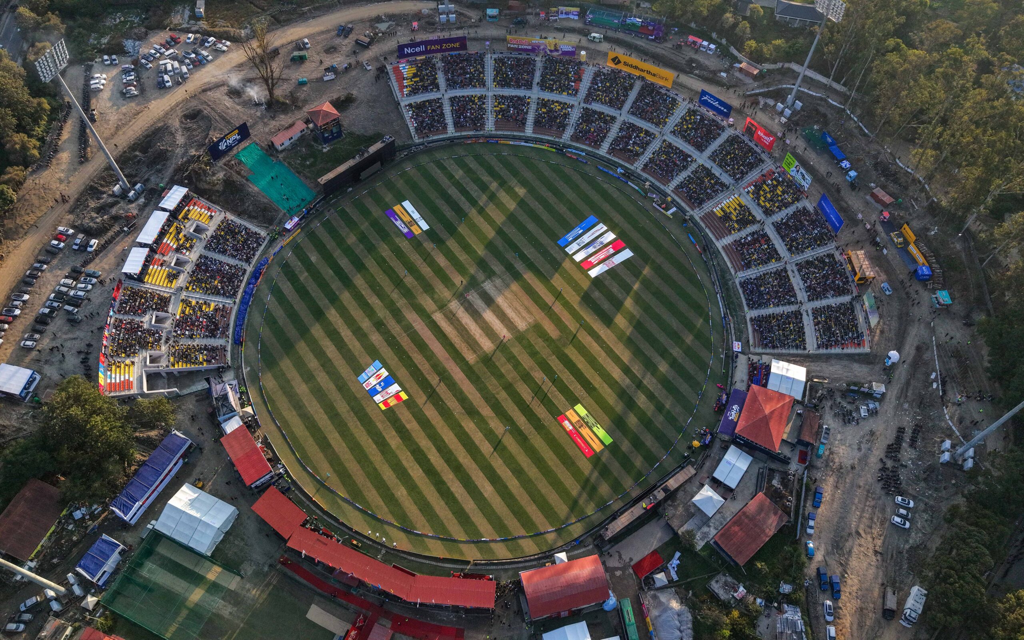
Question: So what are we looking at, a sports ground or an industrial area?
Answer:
sports ground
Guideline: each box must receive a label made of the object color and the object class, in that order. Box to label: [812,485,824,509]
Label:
blue vehicle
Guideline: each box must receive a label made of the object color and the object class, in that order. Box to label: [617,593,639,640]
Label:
green bus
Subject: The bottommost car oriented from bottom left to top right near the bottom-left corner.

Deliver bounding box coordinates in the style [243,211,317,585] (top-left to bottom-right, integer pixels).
[19,594,40,612]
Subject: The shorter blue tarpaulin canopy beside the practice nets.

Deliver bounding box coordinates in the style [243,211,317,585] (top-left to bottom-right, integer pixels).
[76,536,127,584]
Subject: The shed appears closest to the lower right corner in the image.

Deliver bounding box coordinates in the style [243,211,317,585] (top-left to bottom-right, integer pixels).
[774,604,804,640]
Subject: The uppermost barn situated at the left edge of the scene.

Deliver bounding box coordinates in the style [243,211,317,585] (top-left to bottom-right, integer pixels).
[0,474,64,561]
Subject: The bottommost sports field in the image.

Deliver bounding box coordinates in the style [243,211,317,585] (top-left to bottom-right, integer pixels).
[113,591,191,636]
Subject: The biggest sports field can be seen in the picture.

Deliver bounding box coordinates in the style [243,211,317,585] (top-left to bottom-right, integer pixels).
[242,143,725,560]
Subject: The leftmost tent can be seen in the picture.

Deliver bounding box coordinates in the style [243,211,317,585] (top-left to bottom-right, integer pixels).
[0,363,42,401]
